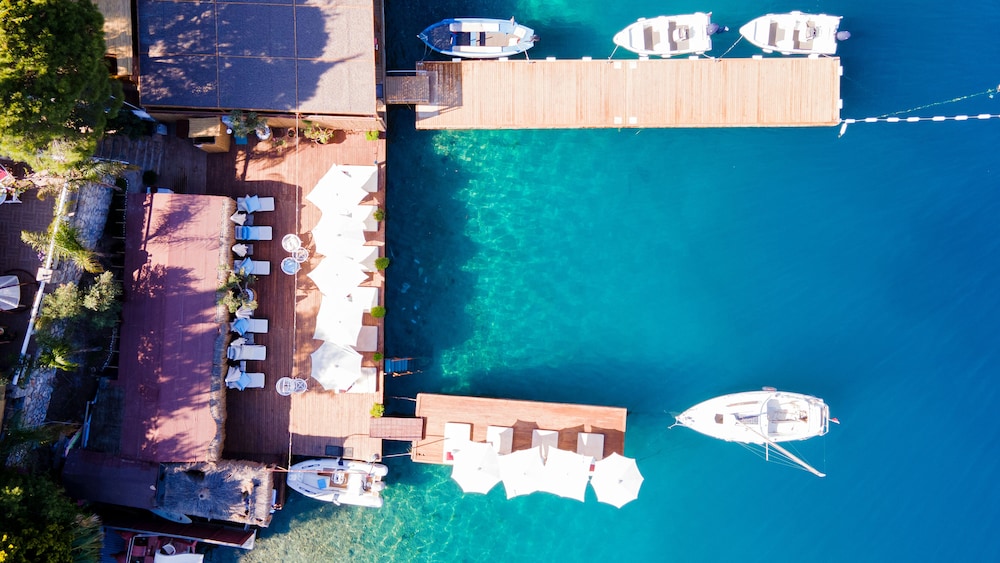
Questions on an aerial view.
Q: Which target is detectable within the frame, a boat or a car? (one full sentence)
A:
Of the two, only a boat appears.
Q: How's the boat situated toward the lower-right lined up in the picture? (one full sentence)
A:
The boat situated toward the lower-right has been laid out horizontally relative to the frame.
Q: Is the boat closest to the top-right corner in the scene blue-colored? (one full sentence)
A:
No, the color of the boat closest to the top-right corner is white.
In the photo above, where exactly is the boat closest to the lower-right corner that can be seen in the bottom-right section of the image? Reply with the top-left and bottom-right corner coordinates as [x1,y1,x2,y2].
[669,387,846,473]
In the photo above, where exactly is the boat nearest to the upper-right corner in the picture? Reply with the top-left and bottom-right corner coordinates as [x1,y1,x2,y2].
[737,13,850,58]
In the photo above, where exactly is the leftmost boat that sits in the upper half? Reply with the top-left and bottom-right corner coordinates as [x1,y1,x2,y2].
[417,17,540,58]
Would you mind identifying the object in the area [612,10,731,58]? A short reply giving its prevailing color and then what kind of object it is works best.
white boat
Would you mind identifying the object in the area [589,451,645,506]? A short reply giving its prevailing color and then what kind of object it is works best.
white umbrella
